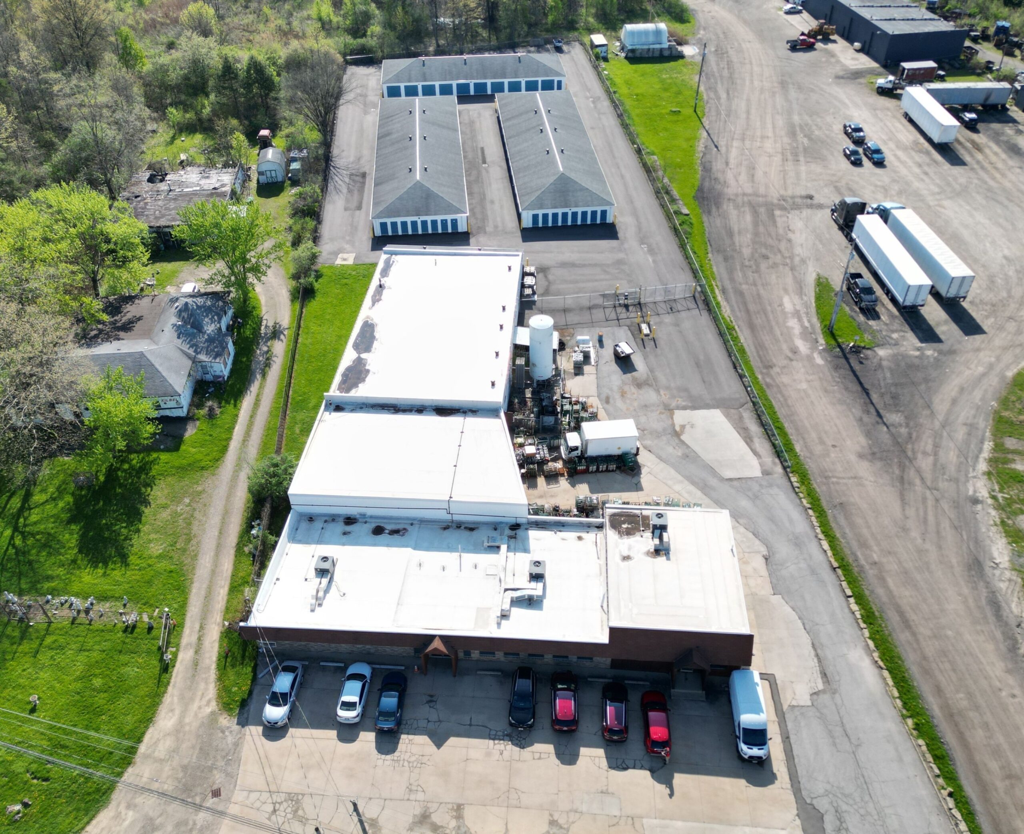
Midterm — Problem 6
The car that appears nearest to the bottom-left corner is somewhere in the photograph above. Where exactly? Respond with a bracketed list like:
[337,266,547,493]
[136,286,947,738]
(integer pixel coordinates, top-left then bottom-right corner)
[264,660,305,727]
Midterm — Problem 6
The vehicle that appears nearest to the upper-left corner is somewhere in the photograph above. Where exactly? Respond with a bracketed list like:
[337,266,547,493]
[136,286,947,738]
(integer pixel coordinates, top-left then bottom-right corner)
[255,133,275,152]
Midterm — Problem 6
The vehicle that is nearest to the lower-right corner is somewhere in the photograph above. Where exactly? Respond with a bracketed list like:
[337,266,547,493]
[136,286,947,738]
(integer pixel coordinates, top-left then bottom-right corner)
[725,670,773,762]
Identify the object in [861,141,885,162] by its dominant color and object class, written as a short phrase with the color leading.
blue car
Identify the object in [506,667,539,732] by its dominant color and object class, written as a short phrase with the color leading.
black car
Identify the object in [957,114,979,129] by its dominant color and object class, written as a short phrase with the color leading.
black car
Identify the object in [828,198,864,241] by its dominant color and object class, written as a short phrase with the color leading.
black truck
